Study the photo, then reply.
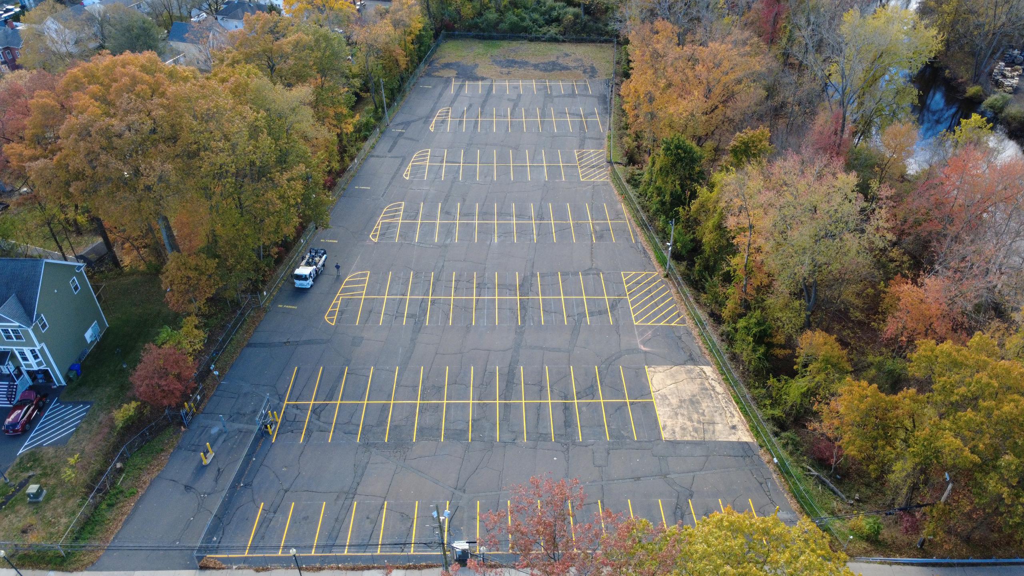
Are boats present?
No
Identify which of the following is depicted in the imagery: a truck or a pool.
truck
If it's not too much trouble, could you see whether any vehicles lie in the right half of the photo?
No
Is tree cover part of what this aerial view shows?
Yes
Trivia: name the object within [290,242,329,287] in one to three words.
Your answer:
truck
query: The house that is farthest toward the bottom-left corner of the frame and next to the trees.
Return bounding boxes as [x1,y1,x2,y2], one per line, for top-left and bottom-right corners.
[0,257,108,413]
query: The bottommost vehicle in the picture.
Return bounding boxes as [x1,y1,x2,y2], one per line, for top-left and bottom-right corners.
[2,389,42,431]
